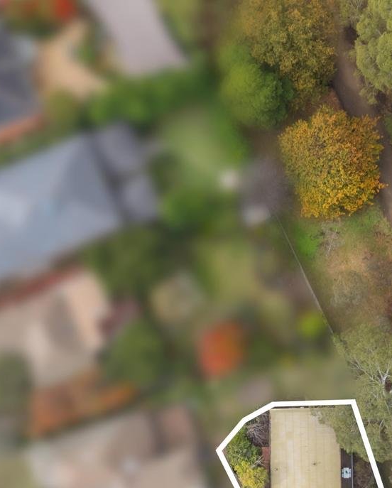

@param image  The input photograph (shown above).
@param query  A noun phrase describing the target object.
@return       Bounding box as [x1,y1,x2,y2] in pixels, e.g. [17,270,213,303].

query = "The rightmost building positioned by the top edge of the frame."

[86,0,188,77]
